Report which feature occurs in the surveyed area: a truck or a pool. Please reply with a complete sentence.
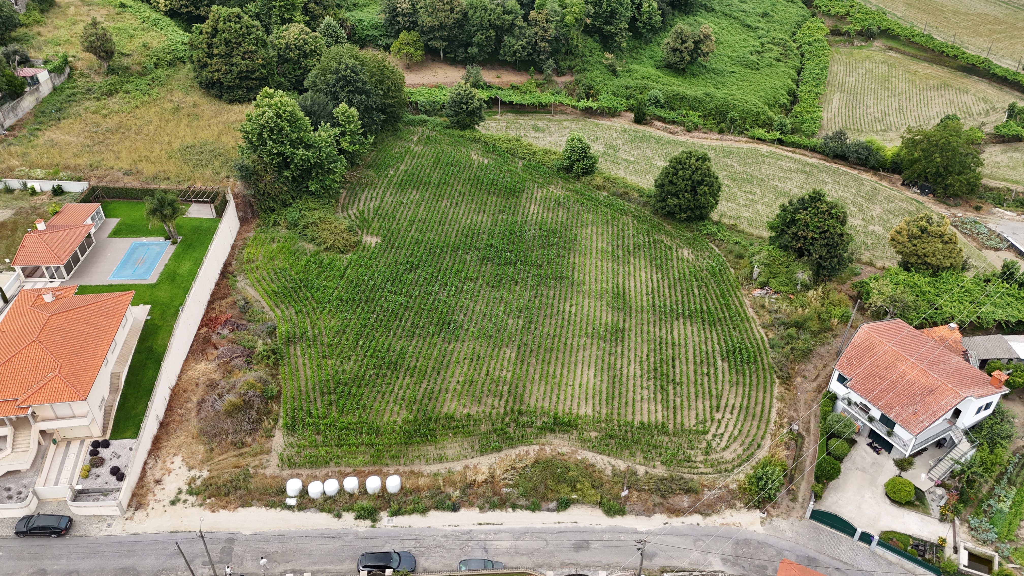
Of the two, only a pool appears.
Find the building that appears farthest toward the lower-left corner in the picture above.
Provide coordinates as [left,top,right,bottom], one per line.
[0,282,151,473]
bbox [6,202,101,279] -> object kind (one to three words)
building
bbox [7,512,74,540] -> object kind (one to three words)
car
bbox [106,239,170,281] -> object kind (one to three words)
swimming pool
